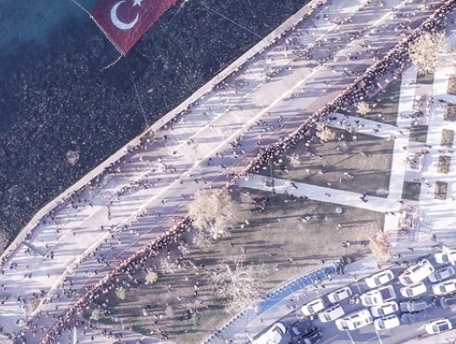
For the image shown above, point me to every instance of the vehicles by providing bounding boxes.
[316,302,345,323]
[430,277,456,294]
[326,284,352,304]
[372,312,402,330]
[299,326,325,344]
[369,300,398,316]
[244,313,286,344]
[298,295,327,318]
[398,279,429,298]
[286,316,314,337]
[400,309,427,321]
[429,289,456,309]
[360,284,399,306]
[432,247,456,264]
[423,317,453,334]
[394,254,438,287]
[333,305,374,330]
[364,267,394,287]
[426,263,455,282]
[398,297,427,311]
